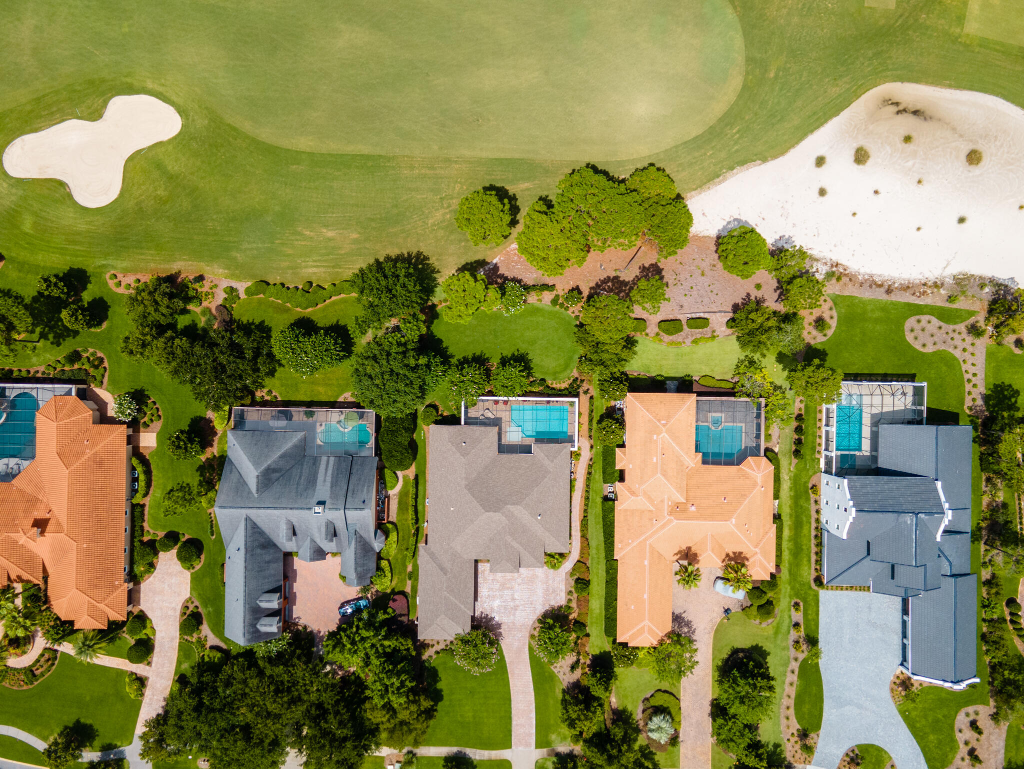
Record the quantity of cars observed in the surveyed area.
two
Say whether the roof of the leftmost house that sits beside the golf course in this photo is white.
No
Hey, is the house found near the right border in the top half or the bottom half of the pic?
bottom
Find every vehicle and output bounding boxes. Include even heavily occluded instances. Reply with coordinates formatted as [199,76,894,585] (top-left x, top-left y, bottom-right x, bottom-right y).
[337,597,371,617]
[711,577,746,599]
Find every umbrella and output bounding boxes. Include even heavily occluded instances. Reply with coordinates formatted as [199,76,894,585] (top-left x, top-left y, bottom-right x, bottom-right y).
[344,410,360,426]
[269,411,288,429]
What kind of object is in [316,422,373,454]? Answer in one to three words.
swimming pool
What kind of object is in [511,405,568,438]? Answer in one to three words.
swimming pool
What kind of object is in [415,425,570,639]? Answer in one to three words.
house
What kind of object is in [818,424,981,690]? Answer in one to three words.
house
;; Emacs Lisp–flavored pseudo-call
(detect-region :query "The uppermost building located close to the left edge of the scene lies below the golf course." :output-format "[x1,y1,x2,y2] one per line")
[0,385,138,630]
